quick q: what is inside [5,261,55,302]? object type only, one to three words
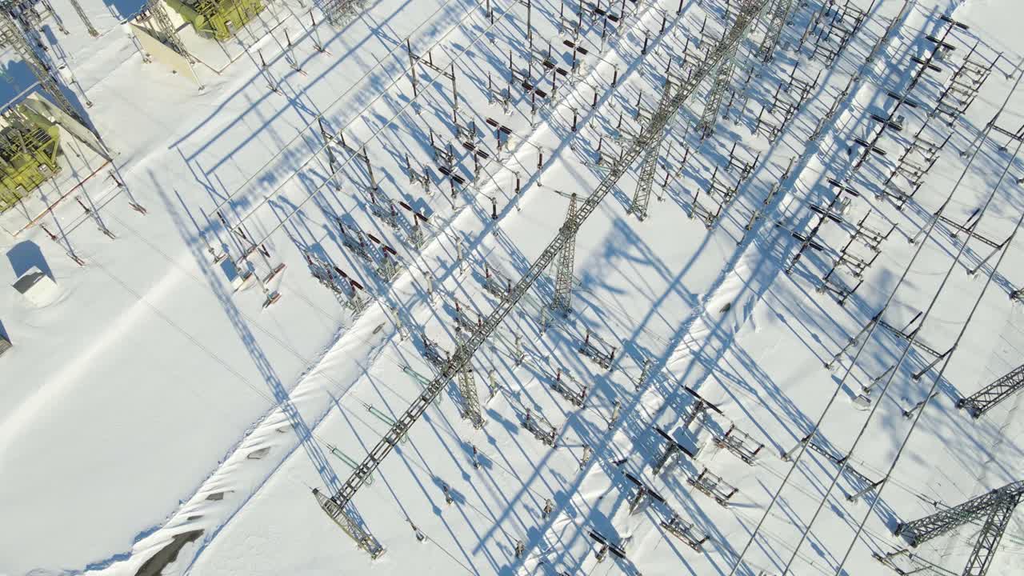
shed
